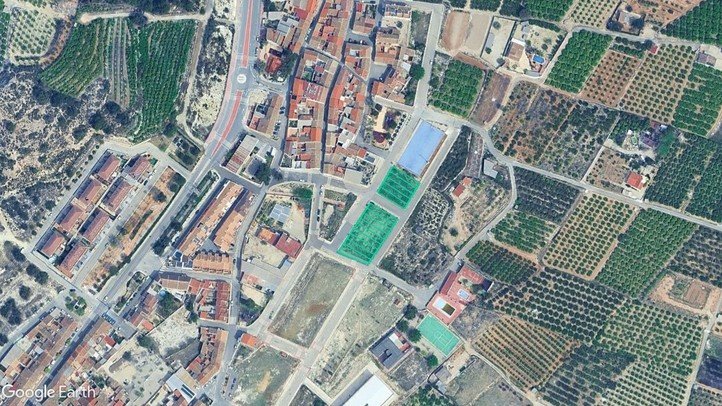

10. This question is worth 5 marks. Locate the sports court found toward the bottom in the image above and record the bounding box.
[415,314,465,359]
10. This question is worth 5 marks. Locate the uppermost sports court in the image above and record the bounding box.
[395,119,450,178]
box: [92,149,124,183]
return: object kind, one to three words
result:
house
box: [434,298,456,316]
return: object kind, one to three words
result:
swimming pool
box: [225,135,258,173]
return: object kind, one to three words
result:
building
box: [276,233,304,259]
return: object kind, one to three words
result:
building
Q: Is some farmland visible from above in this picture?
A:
Yes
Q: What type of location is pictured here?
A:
residential area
